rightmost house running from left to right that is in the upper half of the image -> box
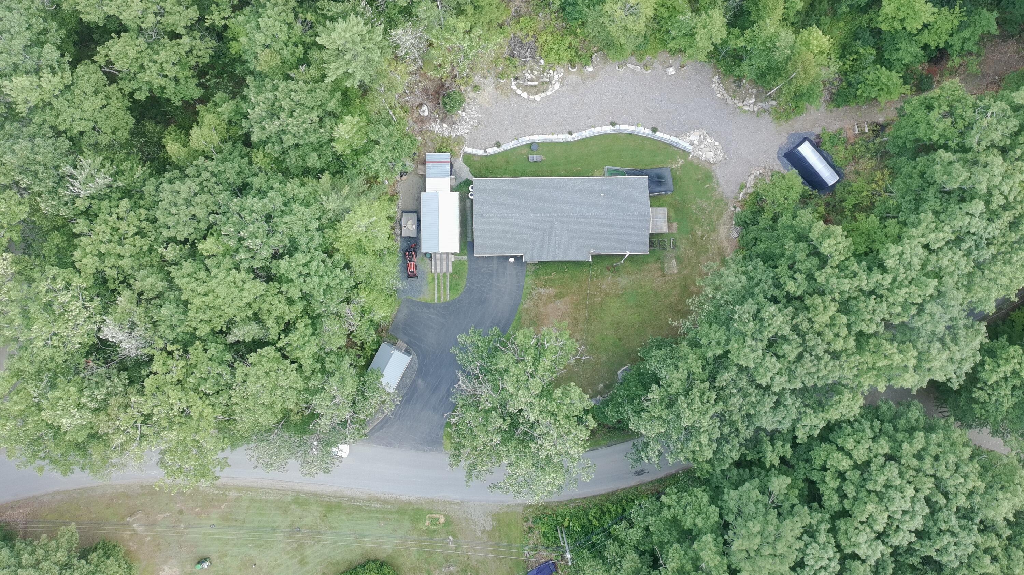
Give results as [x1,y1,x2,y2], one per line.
[472,176,651,261]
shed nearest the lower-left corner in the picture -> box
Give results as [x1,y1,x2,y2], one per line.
[366,343,413,394]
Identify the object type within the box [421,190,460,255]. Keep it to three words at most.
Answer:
building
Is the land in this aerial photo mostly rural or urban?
rural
